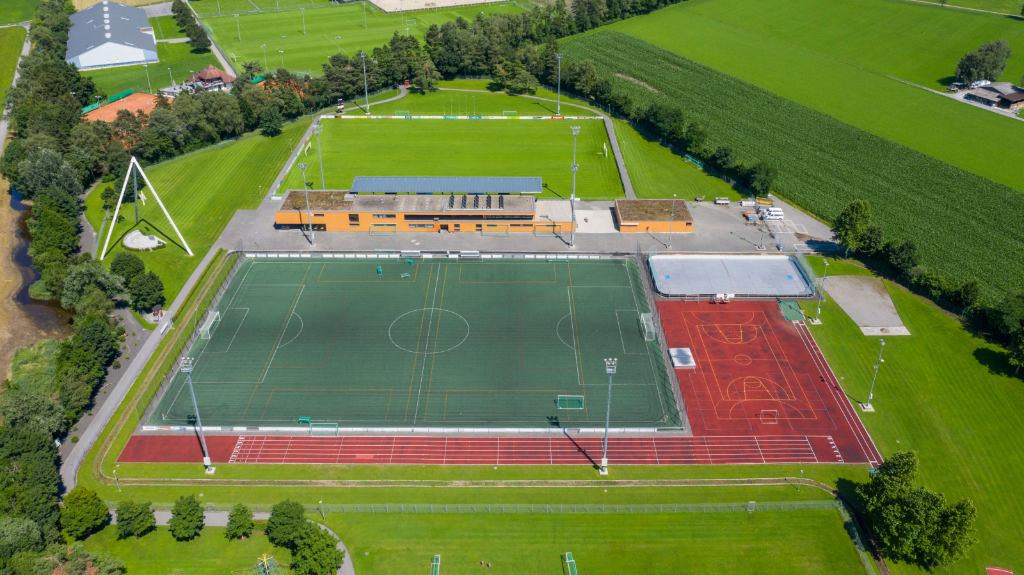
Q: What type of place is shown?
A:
sports ground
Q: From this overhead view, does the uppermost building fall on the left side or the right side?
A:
left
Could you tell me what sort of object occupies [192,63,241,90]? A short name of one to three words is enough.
building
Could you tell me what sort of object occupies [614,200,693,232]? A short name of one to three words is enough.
building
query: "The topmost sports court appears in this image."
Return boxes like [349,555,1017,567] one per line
[649,253,816,297]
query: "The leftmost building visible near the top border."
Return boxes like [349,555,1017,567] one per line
[66,1,161,70]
